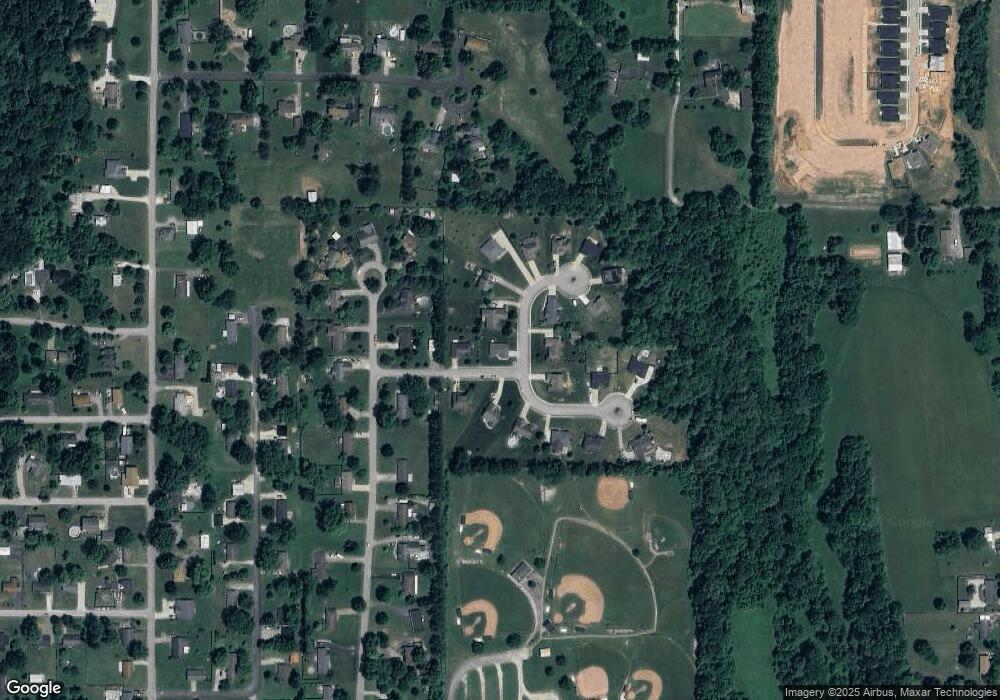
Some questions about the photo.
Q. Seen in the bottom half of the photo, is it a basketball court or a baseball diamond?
baseball diamond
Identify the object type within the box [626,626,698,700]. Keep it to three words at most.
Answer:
baseball field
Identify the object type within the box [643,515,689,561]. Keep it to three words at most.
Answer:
baseball field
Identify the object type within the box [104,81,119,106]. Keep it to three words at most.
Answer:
house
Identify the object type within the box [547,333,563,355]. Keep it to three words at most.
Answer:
house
